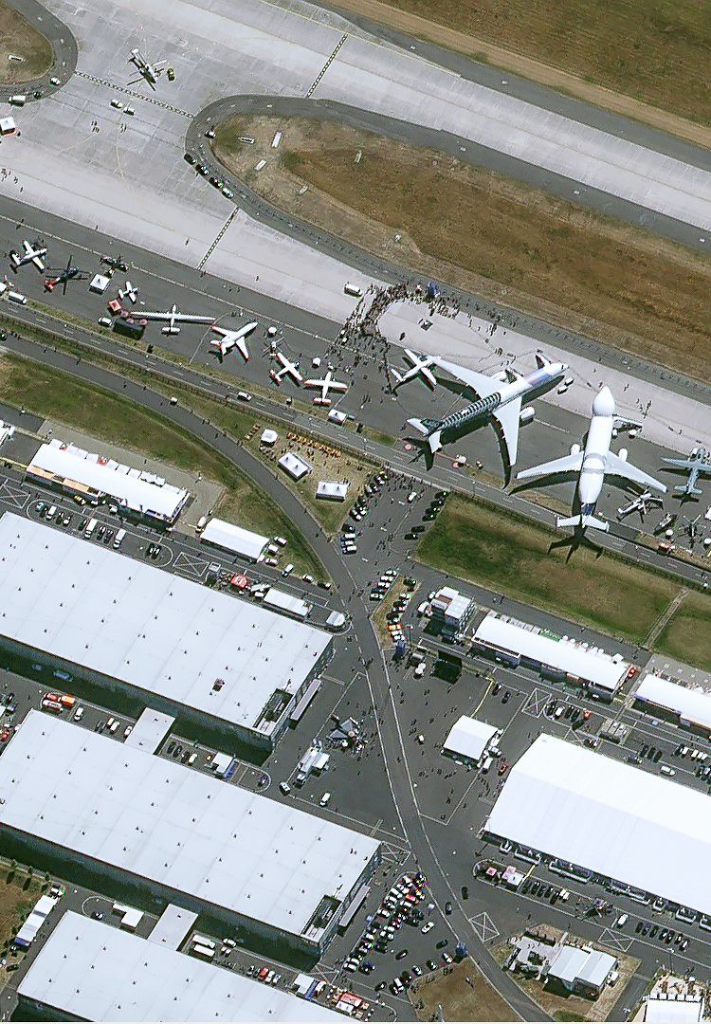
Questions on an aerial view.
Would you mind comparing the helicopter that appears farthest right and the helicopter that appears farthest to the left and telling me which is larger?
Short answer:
the helicopter that appears farthest to the left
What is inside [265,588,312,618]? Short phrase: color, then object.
white tent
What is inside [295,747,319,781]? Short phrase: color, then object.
white truck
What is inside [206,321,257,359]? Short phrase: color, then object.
white airplane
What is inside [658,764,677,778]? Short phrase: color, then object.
white vehicle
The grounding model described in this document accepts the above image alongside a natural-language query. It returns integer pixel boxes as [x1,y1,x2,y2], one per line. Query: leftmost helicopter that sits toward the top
[43,254,90,295]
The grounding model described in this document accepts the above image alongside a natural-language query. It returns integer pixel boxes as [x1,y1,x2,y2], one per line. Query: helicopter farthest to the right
[679,516,705,540]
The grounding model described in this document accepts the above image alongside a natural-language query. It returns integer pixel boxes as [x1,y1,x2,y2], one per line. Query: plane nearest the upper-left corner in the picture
[12,238,46,270]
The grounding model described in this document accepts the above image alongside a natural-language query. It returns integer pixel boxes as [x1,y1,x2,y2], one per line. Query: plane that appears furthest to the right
[657,447,711,493]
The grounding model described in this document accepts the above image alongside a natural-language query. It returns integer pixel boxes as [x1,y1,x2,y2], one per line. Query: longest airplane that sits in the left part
[130,304,214,332]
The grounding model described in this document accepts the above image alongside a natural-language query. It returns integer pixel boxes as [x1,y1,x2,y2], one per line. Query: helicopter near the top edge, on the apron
[127,45,166,91]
